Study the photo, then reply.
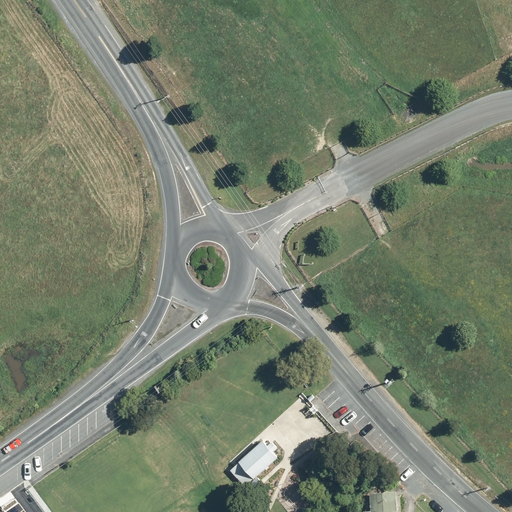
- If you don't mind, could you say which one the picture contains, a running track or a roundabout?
roundabout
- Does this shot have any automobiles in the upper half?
No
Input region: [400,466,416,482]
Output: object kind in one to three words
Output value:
vehicle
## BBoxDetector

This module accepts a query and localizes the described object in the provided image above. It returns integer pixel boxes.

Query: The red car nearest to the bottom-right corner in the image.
[333,404,349,419]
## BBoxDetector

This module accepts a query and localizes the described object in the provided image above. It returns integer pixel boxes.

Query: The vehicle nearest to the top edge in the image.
[192,313,208,329]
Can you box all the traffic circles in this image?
[172,224,243,307]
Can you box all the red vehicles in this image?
[3,438,22,455]
[333,404,349,419]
